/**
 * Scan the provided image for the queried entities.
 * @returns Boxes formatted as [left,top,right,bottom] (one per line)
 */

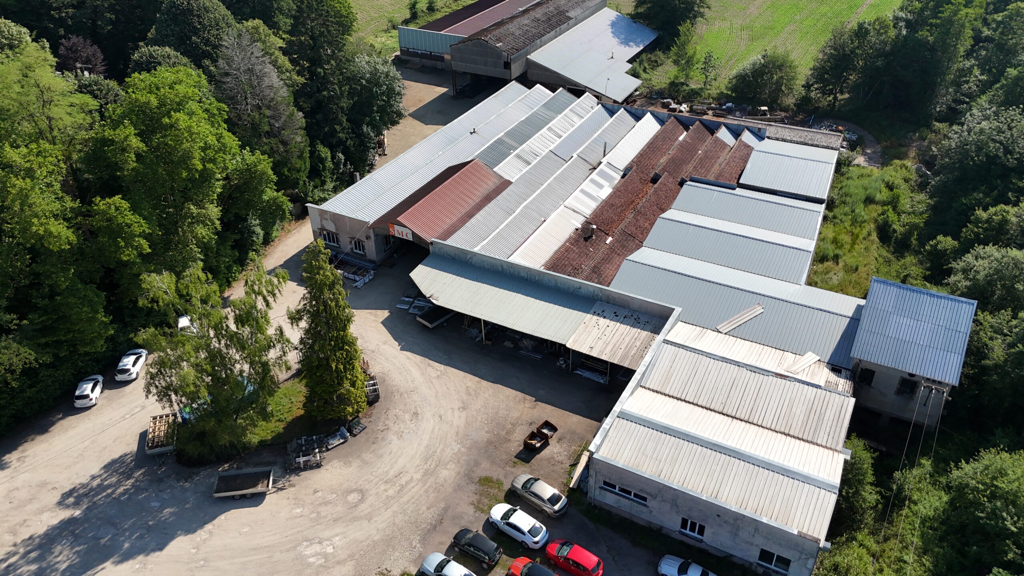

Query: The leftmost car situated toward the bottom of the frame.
[70,377,108,411]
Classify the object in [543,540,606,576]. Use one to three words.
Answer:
car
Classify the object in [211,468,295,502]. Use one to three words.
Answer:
trailer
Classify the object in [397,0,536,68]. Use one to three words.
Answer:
shed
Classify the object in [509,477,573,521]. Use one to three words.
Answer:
car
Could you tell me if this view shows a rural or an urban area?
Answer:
urban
